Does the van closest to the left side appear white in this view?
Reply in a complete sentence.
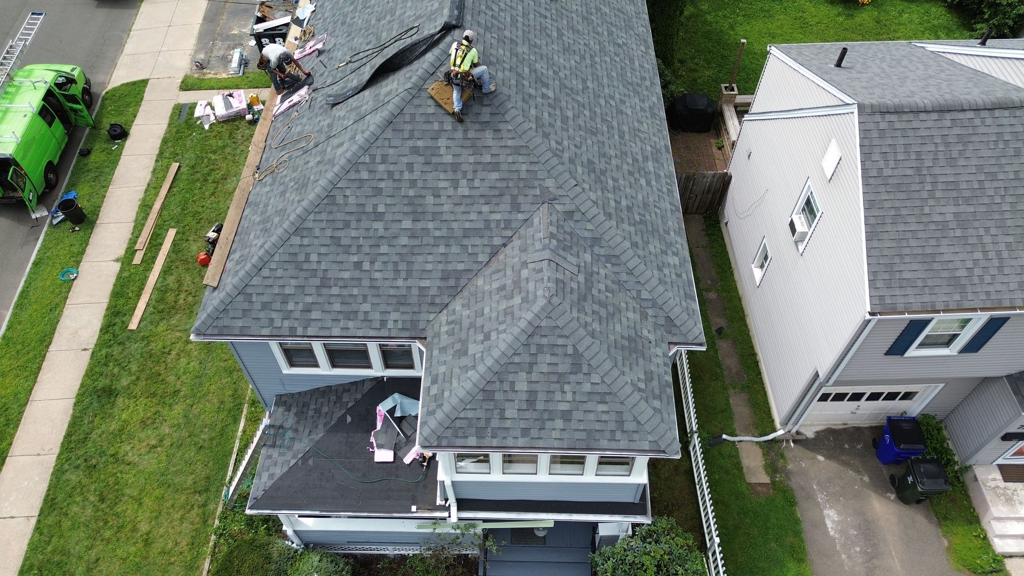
No, from above the van closest to the left side looks green.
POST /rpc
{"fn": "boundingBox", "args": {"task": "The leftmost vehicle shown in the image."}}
[0,67,98,213]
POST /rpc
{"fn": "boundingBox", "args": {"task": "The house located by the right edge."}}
[719,25,1024,468]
